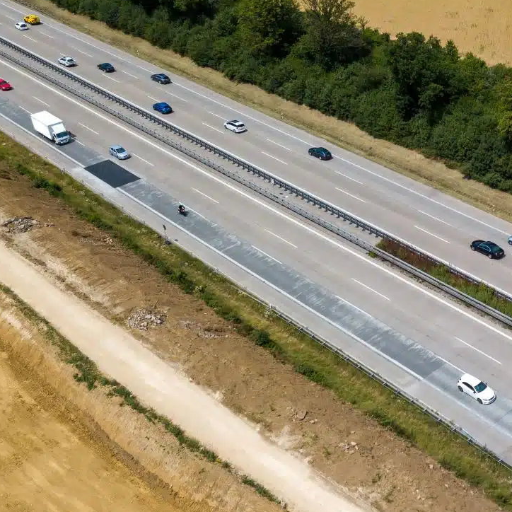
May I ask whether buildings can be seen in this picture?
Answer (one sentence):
No, I can't see a single building in this photo.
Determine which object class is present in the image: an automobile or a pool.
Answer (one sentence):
I can see an automobile in this picture.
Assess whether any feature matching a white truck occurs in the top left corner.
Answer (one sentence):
Yes, I can see a white truck in the top left corner.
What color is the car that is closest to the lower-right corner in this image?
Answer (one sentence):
The car that is closest to the lower-right corner looks white in the image.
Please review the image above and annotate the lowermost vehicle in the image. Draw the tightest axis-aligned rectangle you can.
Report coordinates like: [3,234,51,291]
[456,376,495,406]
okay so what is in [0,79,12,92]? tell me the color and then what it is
red vehicle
